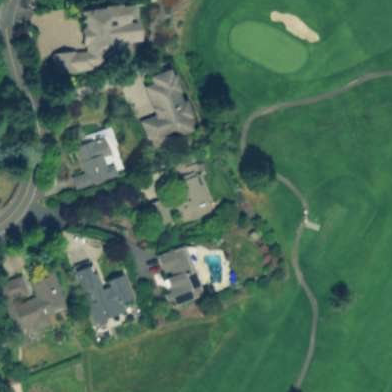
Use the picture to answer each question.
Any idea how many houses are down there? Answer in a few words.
7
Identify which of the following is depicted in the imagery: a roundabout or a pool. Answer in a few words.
pool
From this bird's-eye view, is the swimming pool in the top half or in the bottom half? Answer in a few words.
bottom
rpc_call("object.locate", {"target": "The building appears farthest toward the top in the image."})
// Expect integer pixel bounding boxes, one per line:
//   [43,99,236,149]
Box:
[52,4,146,78]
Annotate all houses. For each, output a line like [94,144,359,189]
[157,245,205,304]
[52,4,146,78]
[176,176,210,225]
[138,66,199,148]
[71,125,128,188]
[4,273,66,336]
[72,260,136,328]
